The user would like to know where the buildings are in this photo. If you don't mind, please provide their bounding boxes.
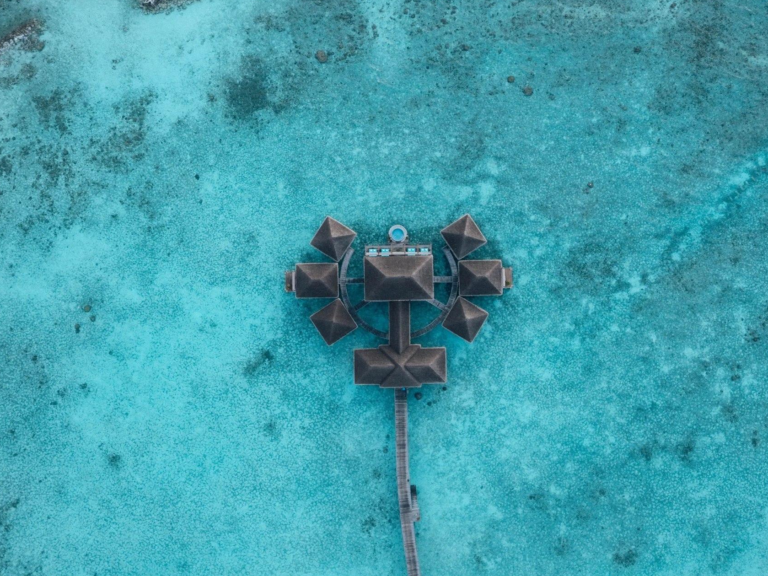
[364,238,433,301]
[441,215,486,257]
[354,344,446,387]
[458,260,514,295]
[311,217,355,261]
[283,263,339,297]
[311,299,356,344]
[443,296,487,341]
